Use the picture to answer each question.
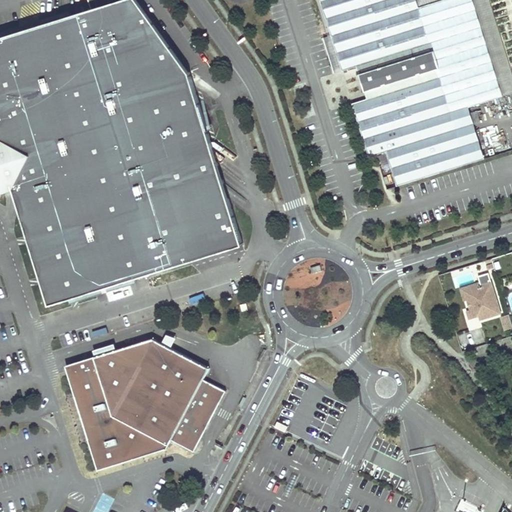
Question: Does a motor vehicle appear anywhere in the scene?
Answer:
Yes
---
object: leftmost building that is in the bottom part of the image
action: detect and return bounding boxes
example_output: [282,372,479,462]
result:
[64,335,225,470]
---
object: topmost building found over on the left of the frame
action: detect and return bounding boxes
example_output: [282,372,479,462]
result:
[0,0,243,307]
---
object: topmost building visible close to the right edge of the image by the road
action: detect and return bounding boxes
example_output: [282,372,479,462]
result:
[320,0,502,186]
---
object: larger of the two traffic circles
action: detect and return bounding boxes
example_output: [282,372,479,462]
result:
[263,236,374,348]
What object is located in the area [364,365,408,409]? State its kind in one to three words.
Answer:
roundabout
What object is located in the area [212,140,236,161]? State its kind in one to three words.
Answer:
vehicle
